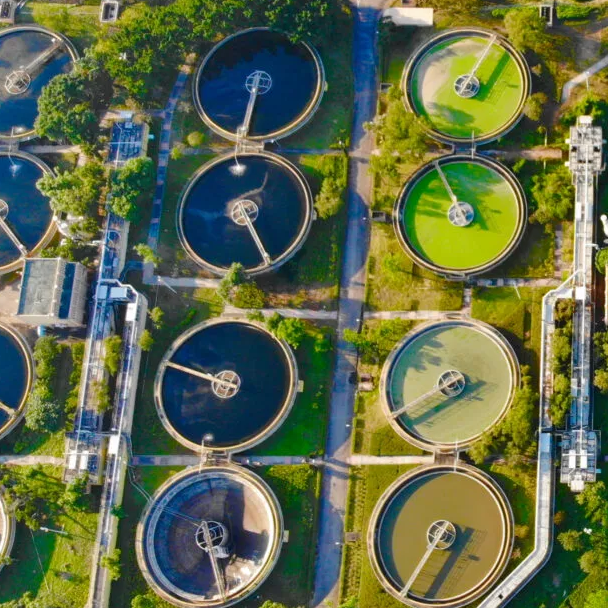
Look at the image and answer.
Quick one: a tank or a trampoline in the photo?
tank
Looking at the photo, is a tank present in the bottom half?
Yes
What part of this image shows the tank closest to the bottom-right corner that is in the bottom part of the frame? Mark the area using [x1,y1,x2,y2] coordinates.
[368,464,514,608]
